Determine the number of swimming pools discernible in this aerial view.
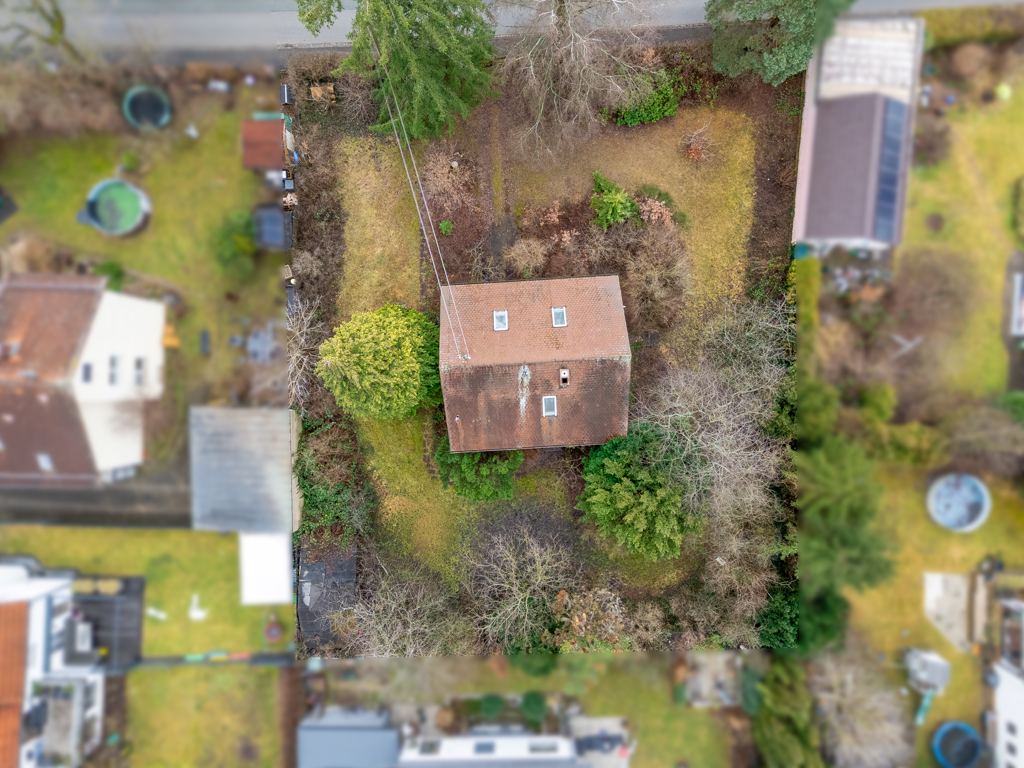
two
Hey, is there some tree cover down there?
Yes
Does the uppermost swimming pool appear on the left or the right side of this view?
left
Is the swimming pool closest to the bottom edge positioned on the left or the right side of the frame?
right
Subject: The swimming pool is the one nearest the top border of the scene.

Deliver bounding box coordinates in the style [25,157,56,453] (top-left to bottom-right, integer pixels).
[88,176,156,239]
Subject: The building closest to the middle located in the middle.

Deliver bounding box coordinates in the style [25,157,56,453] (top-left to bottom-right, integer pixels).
[440,272,633,451]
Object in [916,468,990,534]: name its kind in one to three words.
swimming pool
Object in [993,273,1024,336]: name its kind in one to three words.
greenhouse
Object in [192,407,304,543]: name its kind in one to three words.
building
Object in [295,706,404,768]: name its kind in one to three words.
building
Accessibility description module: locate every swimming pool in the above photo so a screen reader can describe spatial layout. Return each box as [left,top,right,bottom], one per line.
[88,176,156,239]
[916,468,990,534]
